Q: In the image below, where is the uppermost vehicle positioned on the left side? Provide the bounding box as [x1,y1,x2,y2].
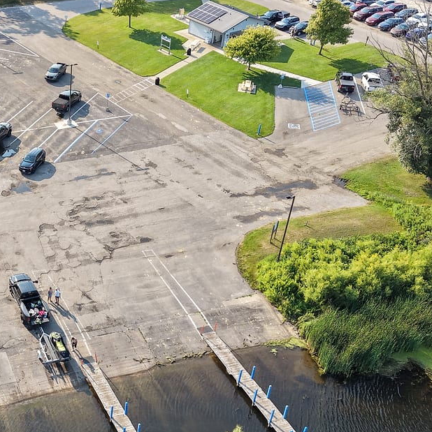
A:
[46,62,67,80]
